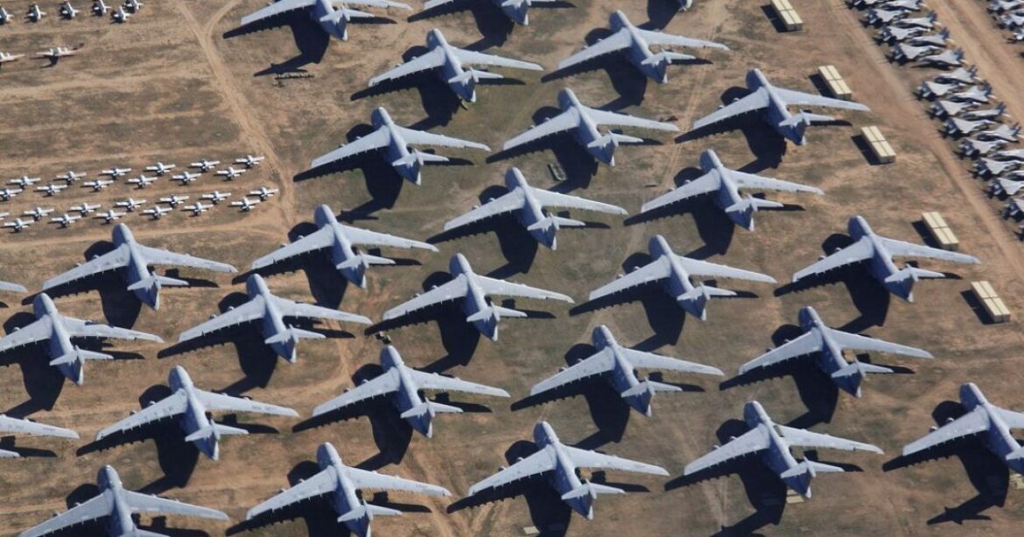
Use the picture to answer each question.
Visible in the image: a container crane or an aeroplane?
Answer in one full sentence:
I can see an aeroplane in this picture.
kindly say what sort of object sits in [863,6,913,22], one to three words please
airplane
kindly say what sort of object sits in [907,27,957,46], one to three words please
airplane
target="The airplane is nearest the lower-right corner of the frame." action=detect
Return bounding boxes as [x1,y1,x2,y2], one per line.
[904,385,1024,476]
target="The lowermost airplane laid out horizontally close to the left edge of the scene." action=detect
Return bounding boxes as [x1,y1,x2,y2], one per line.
[19,464,228,537]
